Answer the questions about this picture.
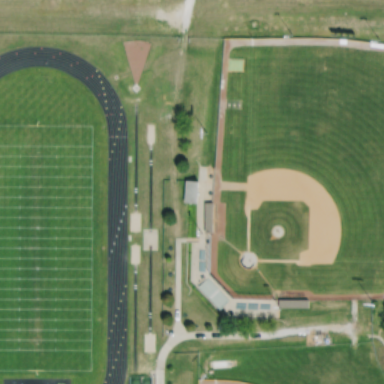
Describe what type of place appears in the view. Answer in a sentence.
It's a sports ground.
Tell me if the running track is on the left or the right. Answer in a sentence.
The running track sits on the left side.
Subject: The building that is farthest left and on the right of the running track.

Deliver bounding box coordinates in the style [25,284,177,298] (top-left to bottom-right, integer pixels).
[184,182,198,206]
